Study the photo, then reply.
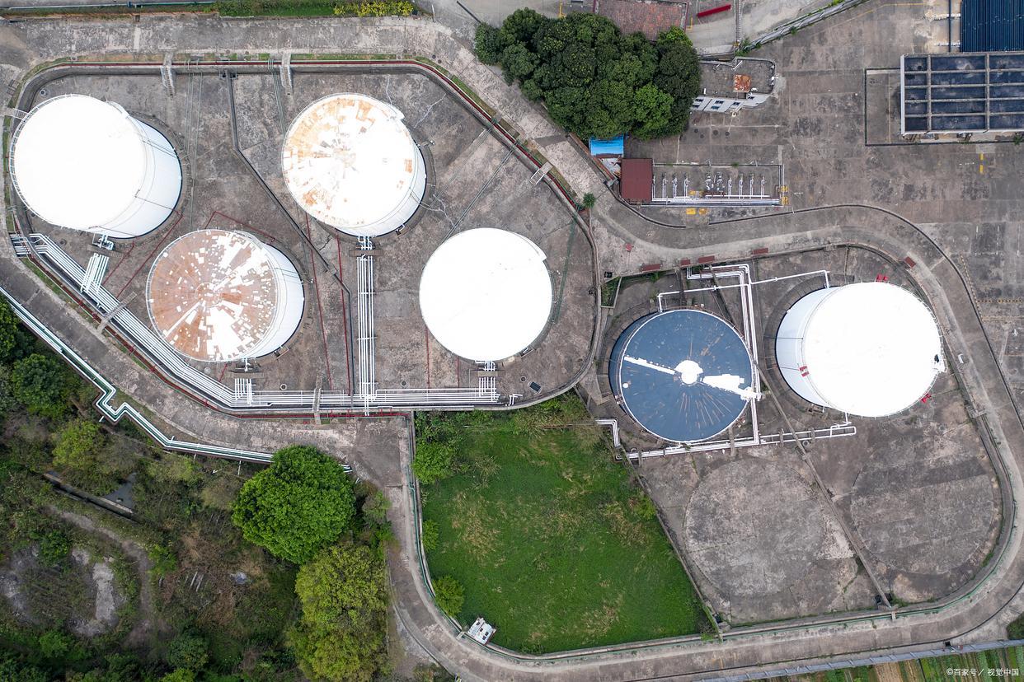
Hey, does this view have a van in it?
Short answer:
No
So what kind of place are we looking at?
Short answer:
industrial area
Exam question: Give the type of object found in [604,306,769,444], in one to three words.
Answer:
storage tank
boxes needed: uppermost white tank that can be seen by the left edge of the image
[6,92,187,252]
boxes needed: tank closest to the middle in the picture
[417,226,555,365]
